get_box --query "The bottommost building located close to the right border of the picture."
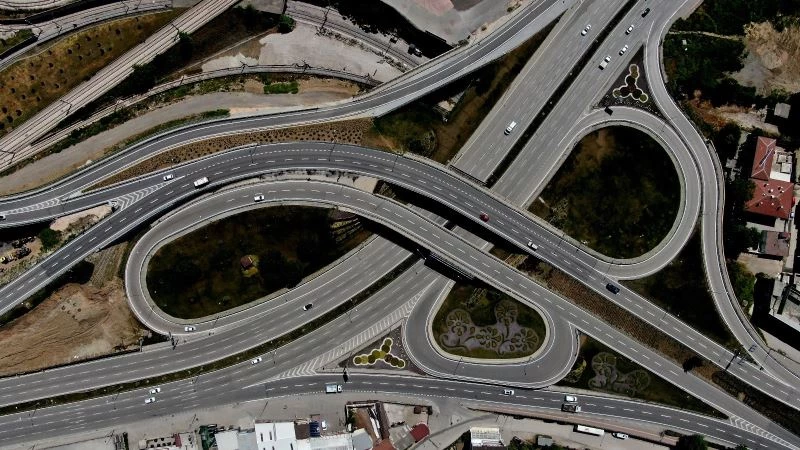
[748,276,800,338]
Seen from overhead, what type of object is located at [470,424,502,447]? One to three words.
building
